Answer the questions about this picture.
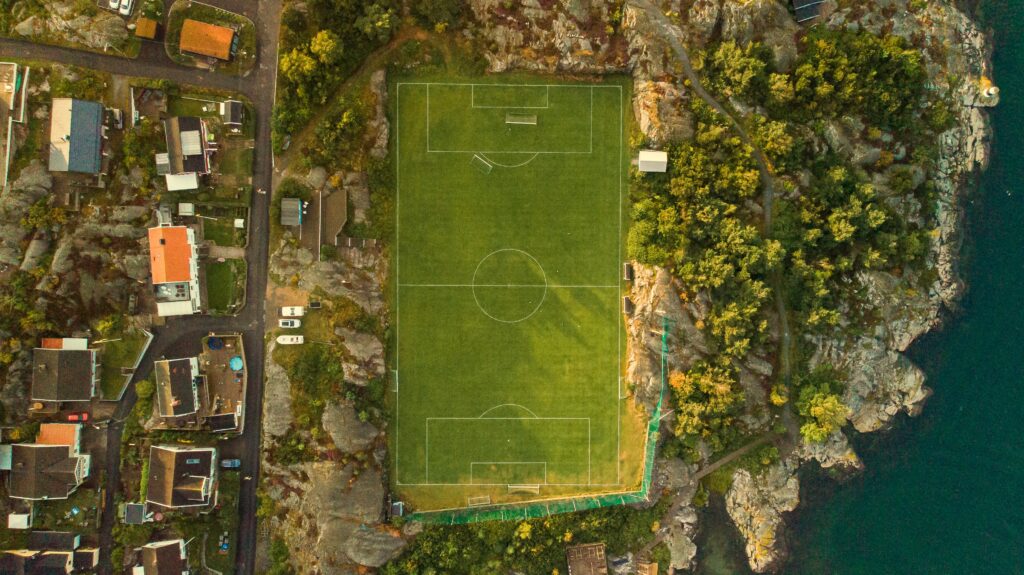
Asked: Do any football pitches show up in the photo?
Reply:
Yes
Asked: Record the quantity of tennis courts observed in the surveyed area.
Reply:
none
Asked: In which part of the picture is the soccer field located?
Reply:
center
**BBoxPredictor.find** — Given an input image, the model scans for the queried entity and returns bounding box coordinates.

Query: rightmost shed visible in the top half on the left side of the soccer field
[281,198,304,225]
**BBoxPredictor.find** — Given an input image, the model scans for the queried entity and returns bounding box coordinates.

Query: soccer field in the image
[386,74,648,513]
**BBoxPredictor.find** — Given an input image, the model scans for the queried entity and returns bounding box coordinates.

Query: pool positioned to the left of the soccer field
[227,356,244,371]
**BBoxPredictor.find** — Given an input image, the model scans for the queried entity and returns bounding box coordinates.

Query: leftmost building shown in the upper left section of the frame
[49,96,110,176]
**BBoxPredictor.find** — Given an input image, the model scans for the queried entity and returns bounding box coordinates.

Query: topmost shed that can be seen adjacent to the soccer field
[637,151,668,173]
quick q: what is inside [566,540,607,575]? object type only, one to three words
building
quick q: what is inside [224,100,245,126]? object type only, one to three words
shed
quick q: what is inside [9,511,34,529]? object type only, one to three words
shed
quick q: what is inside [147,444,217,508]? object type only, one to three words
house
